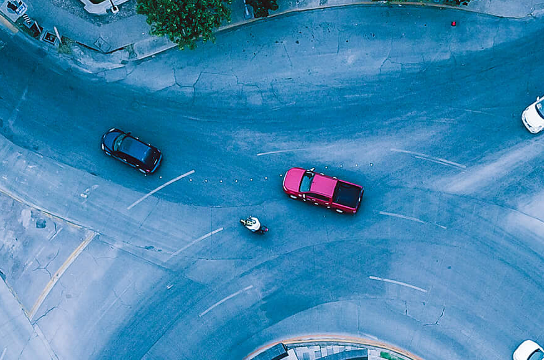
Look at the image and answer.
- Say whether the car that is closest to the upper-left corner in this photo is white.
No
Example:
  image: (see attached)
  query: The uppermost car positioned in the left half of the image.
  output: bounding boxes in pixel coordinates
[99,128,165,175]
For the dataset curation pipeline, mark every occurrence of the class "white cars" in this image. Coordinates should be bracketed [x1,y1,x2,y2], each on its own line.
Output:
[510,338,544,360]
[518,96,544,135]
